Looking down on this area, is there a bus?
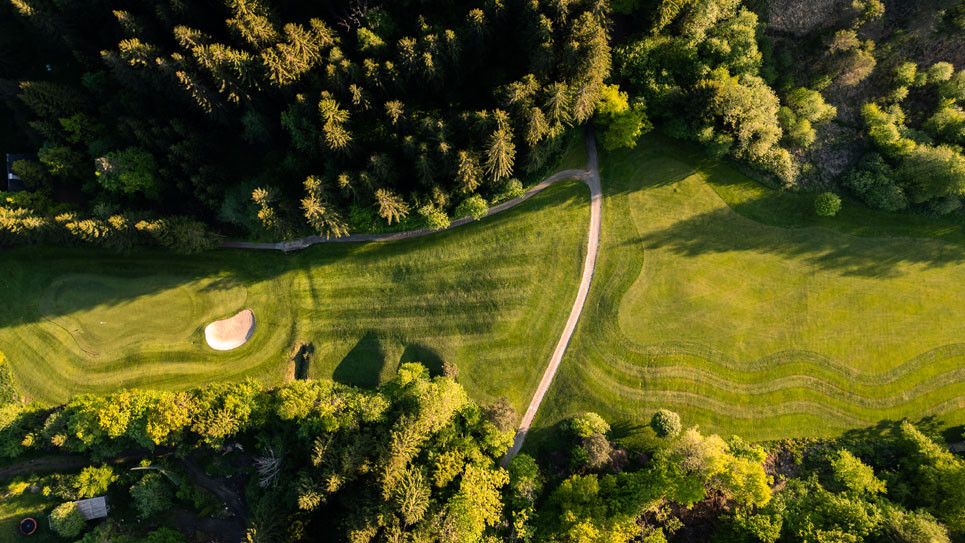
No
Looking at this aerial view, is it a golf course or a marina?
golf course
